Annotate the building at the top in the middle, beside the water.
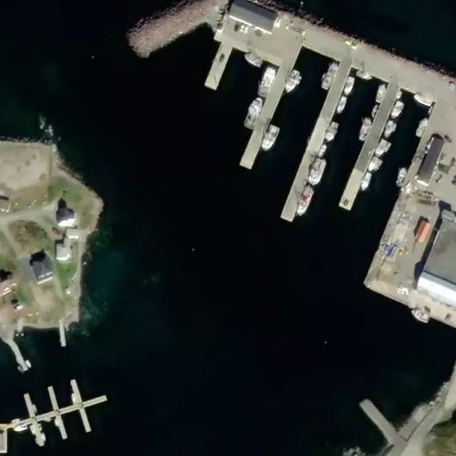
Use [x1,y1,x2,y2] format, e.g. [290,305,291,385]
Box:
[228,0,278,34]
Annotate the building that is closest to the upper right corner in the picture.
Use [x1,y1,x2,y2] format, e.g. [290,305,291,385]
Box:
[416,137,446,186]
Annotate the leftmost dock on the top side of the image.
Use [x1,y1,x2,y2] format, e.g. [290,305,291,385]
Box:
[205,42,233,90]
